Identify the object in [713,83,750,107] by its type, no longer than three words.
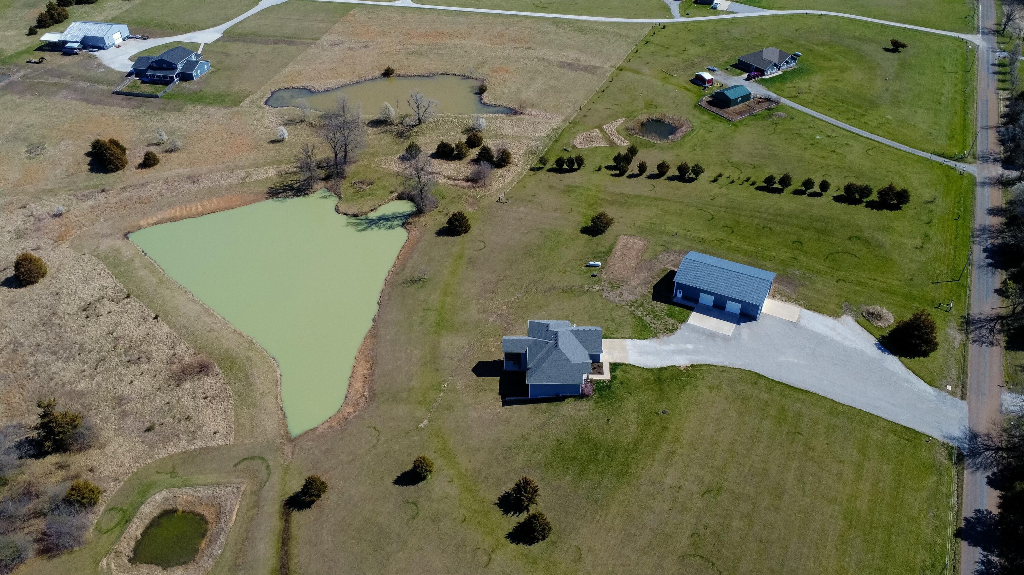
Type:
barn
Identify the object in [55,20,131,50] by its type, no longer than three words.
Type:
barn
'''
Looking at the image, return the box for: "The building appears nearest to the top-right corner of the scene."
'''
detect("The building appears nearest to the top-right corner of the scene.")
[736,47,800,76]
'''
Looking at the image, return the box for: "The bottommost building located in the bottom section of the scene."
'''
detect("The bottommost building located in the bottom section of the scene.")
[502,317,604,397]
